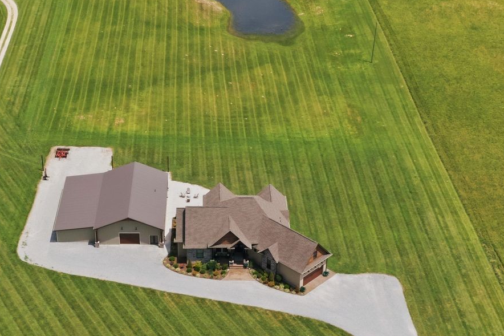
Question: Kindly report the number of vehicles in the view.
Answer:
0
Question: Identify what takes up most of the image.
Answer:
grass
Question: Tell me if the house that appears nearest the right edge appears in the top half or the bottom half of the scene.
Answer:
bottom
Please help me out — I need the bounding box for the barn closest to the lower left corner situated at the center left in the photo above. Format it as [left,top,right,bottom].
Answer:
[54,161,170,245]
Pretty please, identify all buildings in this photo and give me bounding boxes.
[174,183,333,287]
[54,161,170,245]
